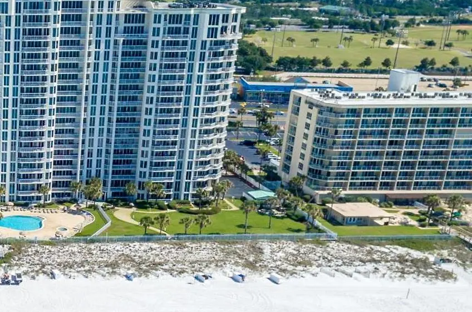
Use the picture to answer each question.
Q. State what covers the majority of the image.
buildings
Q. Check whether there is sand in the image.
Yes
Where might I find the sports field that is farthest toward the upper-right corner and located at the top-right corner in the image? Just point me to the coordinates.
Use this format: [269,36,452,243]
[354,23,472,45]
